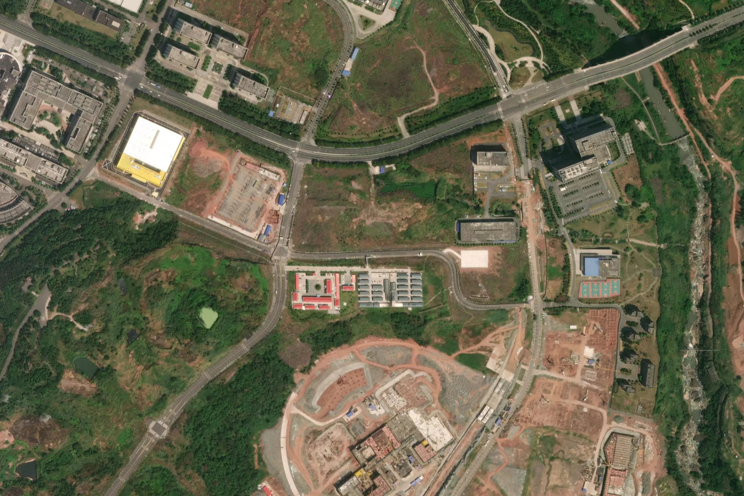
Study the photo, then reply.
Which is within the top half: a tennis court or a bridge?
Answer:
bridge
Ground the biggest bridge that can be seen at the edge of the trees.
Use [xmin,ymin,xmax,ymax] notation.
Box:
[539,23,697,99]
